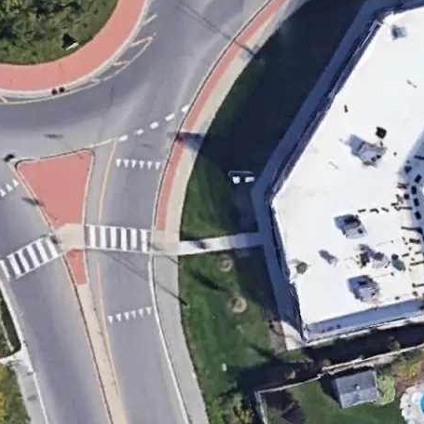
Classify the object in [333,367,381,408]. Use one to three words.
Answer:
shed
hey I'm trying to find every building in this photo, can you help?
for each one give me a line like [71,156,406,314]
[263,0,424,341]
[333,367,381,408]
